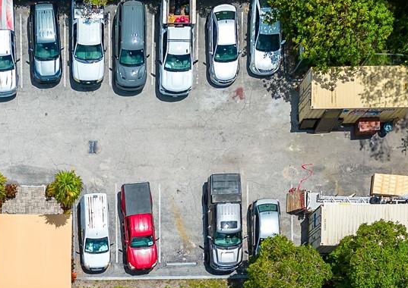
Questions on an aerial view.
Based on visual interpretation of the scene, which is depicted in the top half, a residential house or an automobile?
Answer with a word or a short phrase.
automobile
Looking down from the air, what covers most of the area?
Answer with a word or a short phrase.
paved ground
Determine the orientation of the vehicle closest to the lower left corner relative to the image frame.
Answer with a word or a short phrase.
from top to bottom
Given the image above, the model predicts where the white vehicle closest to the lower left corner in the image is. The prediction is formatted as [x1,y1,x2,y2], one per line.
[78,190,114,274]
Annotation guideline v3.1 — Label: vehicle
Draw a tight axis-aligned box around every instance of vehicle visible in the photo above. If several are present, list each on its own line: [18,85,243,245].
[70,0,108,87]
[248,201,283,280]
[0,0,19,100]
[121,180,160,273]
[78,190,114,274]
[158,0,198,98]
[27,1,64,85]
[205,171,247,275]
[248,0,287,76]
[205,7,242,89]
[111,2,149,92]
